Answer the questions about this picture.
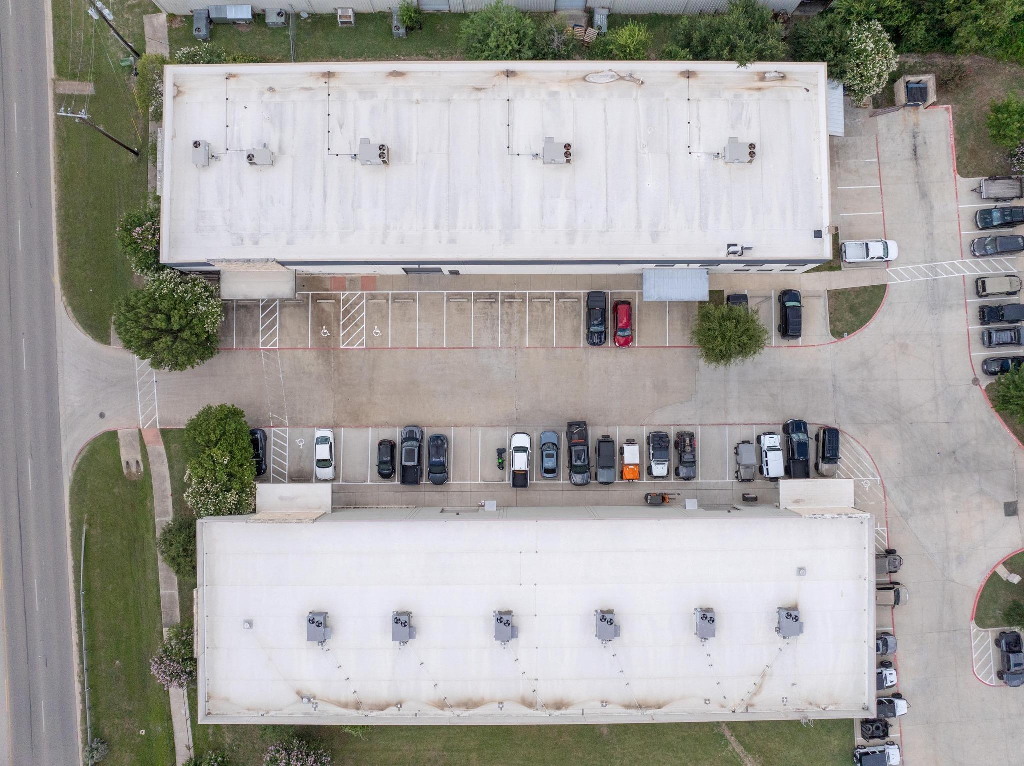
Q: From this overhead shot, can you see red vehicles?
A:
Yes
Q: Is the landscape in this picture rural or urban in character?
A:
urban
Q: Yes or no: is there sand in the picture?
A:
No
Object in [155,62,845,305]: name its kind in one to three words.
building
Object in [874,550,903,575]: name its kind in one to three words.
car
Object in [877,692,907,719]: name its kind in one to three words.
car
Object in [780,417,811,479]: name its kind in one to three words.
truck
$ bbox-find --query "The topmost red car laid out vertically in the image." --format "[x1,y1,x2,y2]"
[612,300,635,348]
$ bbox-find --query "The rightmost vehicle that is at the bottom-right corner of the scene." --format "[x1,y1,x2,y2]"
[992,628,1024,688]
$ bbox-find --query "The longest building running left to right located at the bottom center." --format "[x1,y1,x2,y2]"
[191,479,877,724]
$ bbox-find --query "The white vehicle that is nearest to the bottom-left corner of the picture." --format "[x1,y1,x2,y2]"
[313,430,337,481]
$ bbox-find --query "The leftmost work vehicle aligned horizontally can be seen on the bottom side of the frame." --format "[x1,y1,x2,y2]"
[643,492,675,506]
